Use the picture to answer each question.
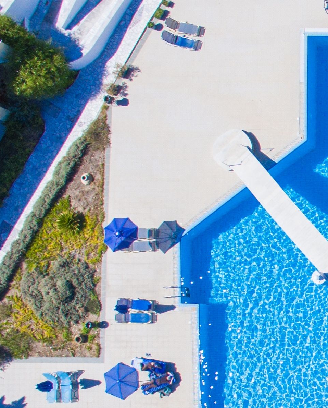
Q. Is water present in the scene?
Yes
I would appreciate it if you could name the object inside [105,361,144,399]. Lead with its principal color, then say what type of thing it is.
blue umbrella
